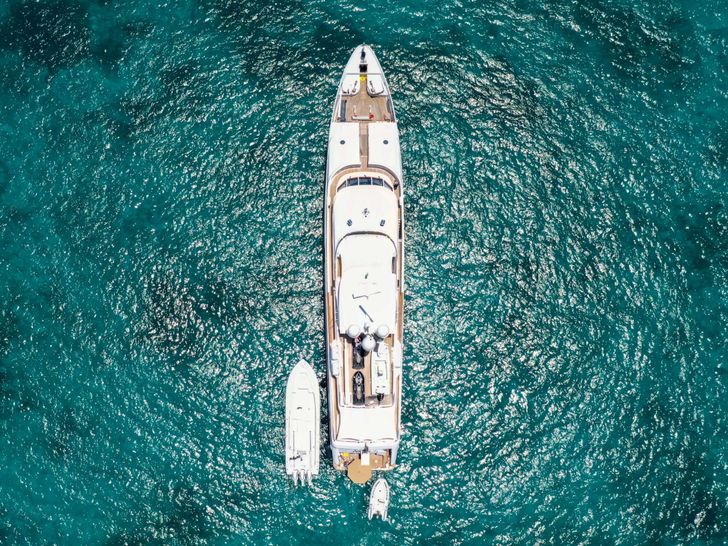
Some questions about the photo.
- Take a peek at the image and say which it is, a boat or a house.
boat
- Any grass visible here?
No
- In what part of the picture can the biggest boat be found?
center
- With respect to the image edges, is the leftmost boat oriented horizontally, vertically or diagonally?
vertically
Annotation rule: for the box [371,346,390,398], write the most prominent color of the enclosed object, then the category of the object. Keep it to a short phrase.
white boat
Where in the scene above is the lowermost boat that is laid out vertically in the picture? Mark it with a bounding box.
[368,478,388,520]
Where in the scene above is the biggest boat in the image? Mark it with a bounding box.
[324,42,404,468]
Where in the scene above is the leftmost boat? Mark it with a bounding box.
[285,358,319,487]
